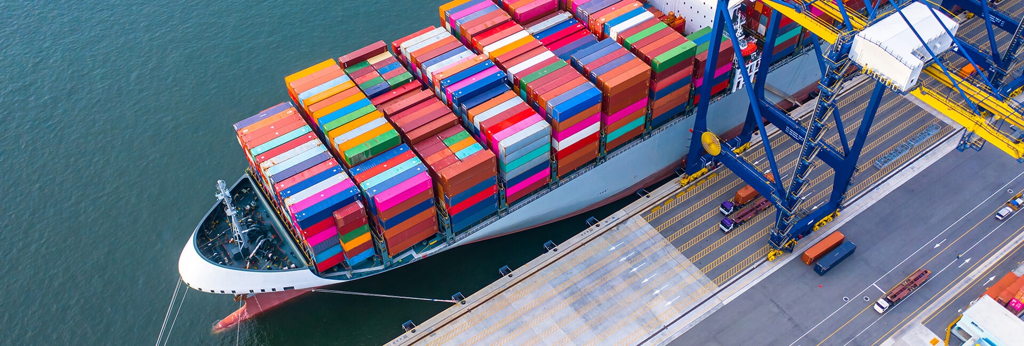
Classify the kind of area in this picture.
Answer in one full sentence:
This looks like a port.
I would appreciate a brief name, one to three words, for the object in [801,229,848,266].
shipping container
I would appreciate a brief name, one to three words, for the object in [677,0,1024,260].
container crane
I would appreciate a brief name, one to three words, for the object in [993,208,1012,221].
vehicle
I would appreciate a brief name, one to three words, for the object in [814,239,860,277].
shipping container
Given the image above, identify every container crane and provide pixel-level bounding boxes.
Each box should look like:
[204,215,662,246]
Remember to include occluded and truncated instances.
[914,0,1024,114]
[677,0,1024,260]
